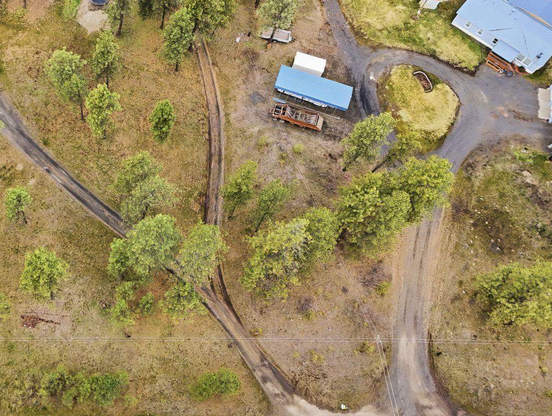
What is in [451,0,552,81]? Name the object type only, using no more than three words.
house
